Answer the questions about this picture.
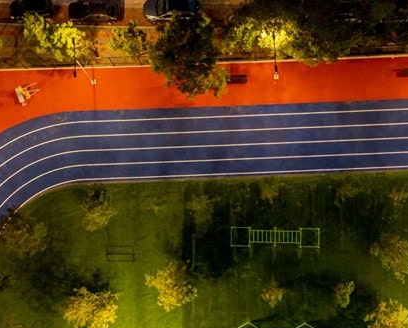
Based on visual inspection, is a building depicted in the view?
No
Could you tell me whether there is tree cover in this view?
Yes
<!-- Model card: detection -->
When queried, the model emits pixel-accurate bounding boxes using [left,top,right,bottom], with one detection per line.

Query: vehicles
[6,0,56,21]
[67,0,123,22]
[144,0,199,22]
